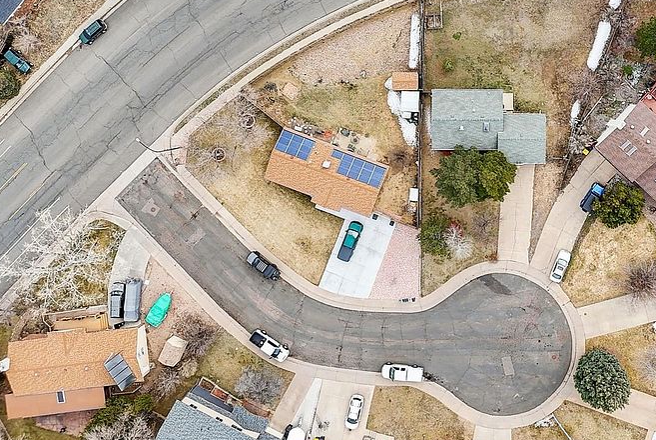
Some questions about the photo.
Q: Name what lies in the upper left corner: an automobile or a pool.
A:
automobile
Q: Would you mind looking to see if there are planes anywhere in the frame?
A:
No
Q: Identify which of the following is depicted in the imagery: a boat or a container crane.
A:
boat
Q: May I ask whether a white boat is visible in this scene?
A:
No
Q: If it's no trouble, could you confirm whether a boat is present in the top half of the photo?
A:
No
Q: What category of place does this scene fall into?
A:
residential area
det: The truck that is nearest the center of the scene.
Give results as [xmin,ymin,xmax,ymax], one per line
[335,220,364,265]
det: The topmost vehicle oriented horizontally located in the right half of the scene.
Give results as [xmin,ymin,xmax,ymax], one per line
[381,362,425,383]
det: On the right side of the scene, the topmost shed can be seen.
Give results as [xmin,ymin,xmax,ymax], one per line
[391,72,420,89]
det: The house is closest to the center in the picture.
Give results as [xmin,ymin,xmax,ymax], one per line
[266,129,389,219]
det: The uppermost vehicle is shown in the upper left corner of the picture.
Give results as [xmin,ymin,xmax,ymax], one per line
[76,17,111,47]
